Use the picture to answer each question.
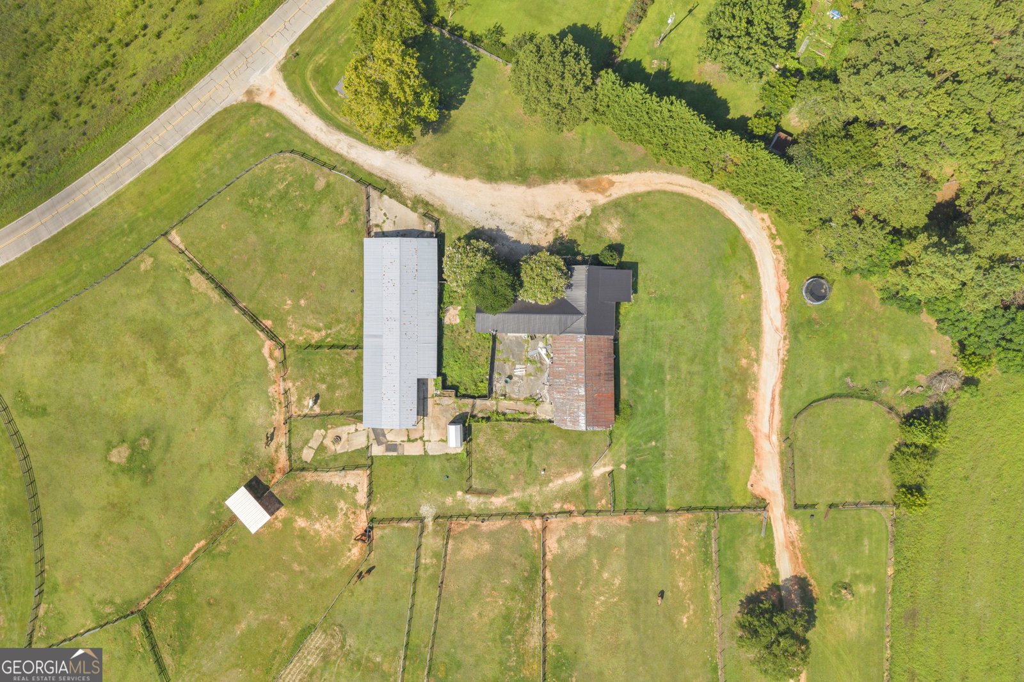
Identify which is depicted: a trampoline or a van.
trampoline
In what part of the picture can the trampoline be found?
right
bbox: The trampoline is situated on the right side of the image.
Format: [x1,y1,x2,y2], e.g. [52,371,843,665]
[802,278,832,304]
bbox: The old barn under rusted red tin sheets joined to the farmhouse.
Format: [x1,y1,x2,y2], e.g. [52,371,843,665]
[549,335,614,429]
